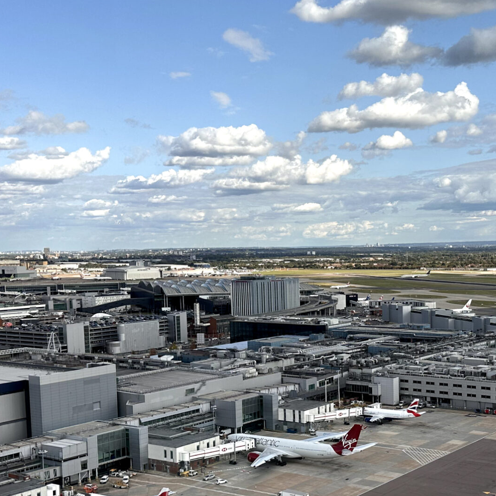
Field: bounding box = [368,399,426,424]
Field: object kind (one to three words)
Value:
airplane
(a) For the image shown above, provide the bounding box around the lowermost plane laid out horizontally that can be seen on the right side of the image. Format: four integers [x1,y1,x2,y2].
[219,419,379,466]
